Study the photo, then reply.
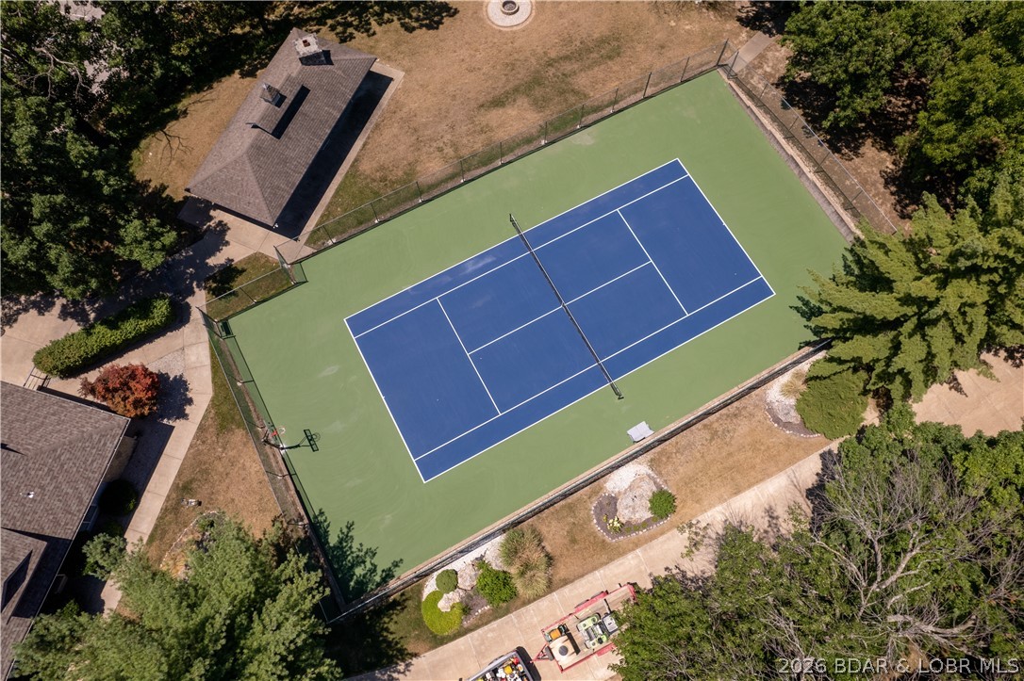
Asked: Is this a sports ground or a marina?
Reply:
sports ground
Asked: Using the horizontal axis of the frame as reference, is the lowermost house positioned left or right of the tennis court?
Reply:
to the left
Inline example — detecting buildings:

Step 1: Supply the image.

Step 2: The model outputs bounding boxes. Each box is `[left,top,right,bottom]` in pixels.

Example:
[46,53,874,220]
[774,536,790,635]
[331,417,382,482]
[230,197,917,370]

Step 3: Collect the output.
[0,376,143,681]
[180,27,409,267]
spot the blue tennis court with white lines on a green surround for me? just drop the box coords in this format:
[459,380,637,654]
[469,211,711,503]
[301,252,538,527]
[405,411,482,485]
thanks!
[224,66,888,606]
